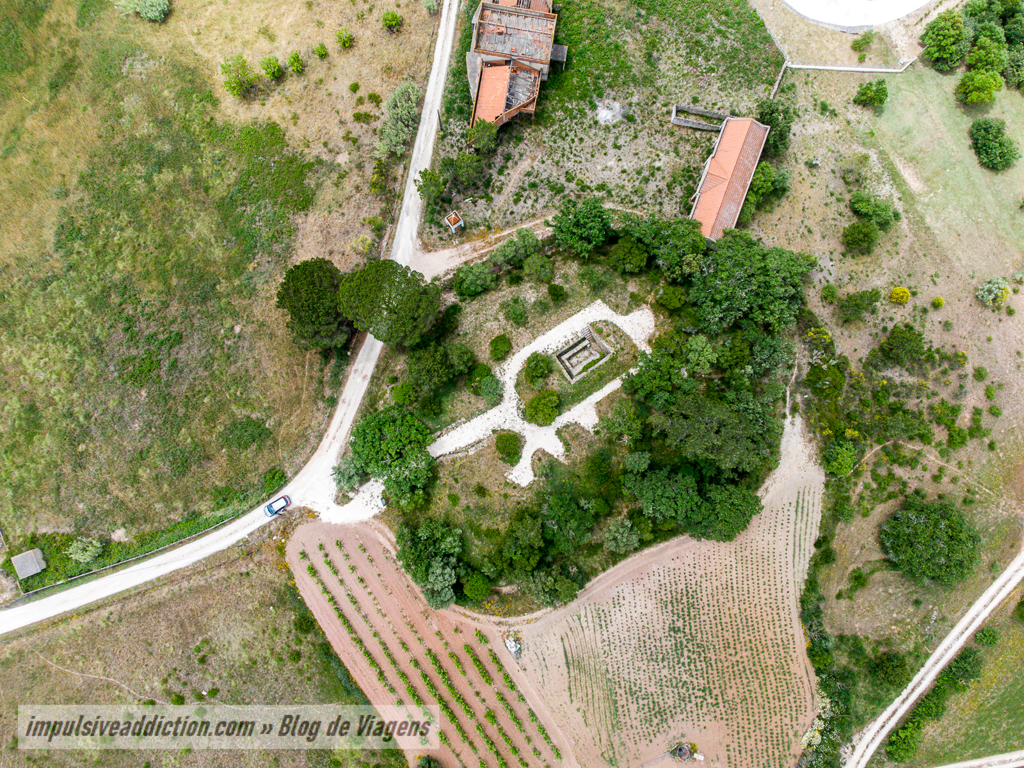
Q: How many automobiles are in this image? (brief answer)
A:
1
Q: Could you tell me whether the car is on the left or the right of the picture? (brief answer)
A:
left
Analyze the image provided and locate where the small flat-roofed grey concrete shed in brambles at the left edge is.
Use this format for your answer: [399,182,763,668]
[10,550,49,580]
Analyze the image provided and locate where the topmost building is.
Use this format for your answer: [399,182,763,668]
[467,0,568,136]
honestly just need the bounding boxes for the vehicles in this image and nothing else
[262,493,292,518]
